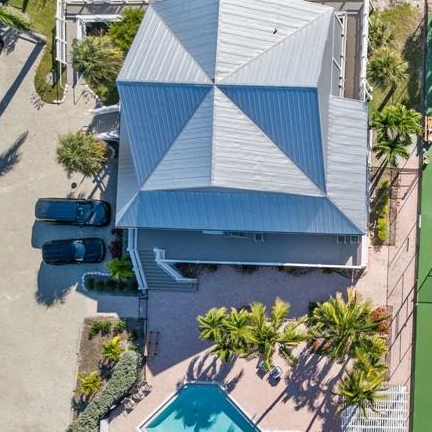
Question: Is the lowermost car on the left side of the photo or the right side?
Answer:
left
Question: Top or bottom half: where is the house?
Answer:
top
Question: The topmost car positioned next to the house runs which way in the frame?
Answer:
from side to side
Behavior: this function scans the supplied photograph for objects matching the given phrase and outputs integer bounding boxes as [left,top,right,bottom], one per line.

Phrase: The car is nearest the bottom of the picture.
[42,235,111,268]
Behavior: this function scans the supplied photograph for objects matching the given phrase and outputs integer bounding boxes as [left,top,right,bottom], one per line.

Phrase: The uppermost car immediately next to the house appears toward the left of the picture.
[33,195,115,230]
